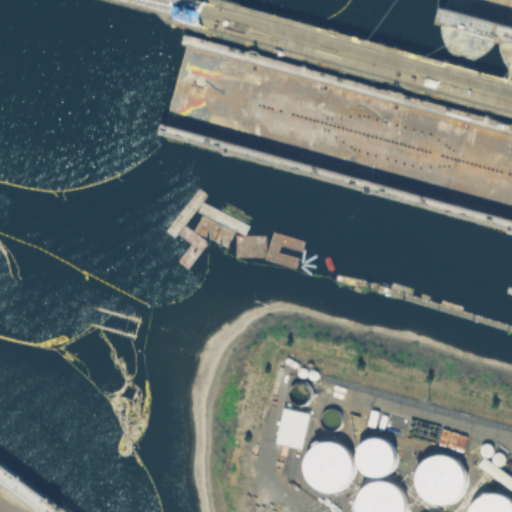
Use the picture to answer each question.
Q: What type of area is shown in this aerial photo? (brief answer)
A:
industrial area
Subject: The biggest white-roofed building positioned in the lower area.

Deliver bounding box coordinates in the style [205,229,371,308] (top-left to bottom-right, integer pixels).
[277,408,312,450]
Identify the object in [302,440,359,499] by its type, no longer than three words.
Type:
storage tank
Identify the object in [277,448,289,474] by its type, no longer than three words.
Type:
vehicle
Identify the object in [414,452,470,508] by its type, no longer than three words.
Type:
storage tank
